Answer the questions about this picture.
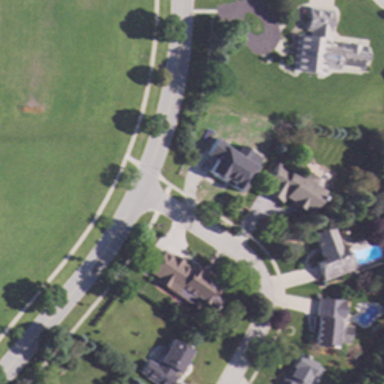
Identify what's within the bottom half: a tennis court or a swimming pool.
swimming pool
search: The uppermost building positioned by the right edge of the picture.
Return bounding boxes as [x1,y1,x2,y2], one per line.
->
[299,7,370,74]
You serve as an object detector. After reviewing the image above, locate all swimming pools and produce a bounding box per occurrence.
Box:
[355,244,382,265]
[354,302,384,328]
